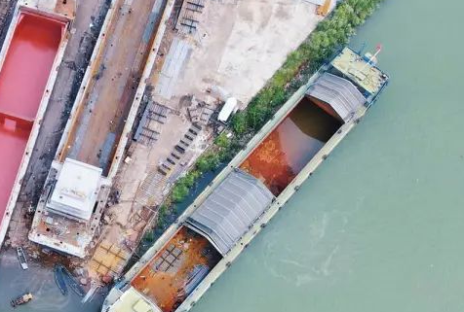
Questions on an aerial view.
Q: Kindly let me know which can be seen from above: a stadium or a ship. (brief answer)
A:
ship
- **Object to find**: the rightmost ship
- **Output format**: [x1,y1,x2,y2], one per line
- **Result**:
[104,36,396,312]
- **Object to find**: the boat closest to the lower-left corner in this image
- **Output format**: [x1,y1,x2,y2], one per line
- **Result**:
[6,292,36,310]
